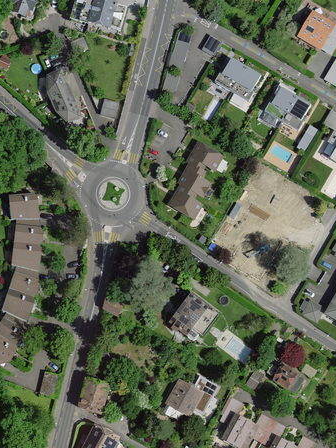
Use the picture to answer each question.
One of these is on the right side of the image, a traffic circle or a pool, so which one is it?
pool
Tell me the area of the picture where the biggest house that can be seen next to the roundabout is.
center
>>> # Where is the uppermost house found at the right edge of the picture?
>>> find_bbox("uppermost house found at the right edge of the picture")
[296,10,336,54]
